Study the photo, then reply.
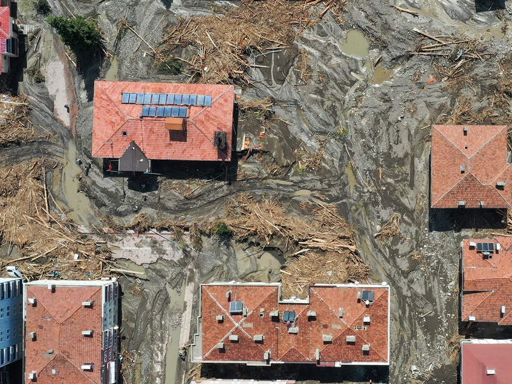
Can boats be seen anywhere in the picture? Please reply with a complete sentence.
No, there isn't any boat down there.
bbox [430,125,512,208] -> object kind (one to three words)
house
